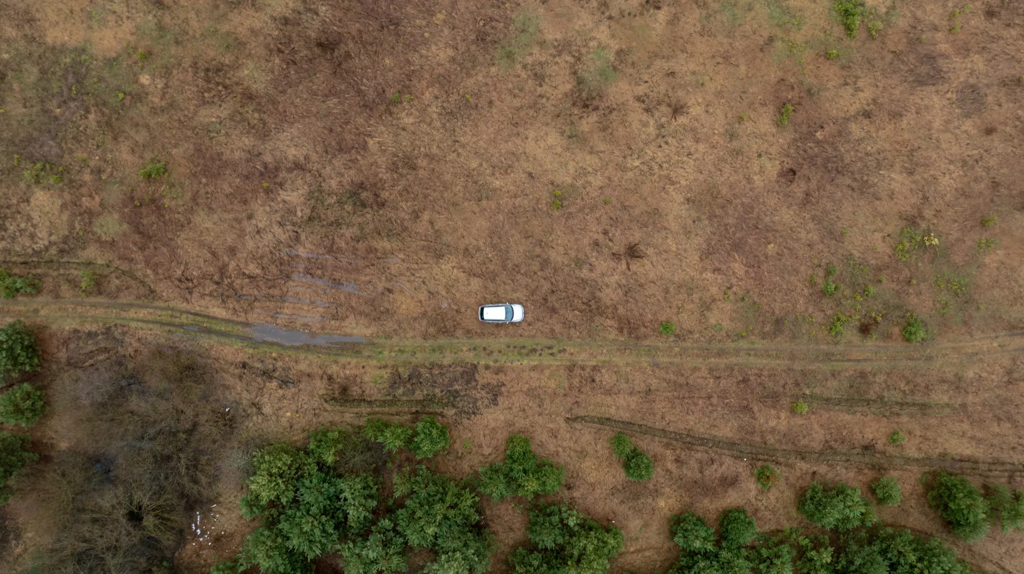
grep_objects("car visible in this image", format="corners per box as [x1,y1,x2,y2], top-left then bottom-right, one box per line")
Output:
[478,303,524,324]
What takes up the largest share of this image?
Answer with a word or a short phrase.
grass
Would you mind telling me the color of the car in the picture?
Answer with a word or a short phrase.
white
